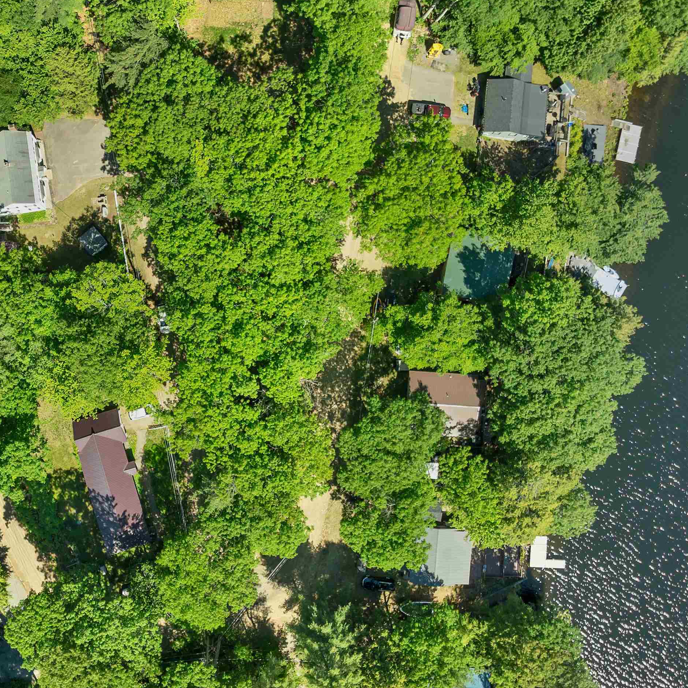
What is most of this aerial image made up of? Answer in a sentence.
The largest share of the image is taken up by trees.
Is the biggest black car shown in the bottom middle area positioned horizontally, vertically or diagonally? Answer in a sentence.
From this overhead view, the biggest black car shown in the bottom middle area appears to run horizontally.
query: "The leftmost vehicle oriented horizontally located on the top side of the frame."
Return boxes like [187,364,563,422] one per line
[409,101,451,121]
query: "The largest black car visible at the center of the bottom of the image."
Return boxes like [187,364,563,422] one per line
[359,572,396,592]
